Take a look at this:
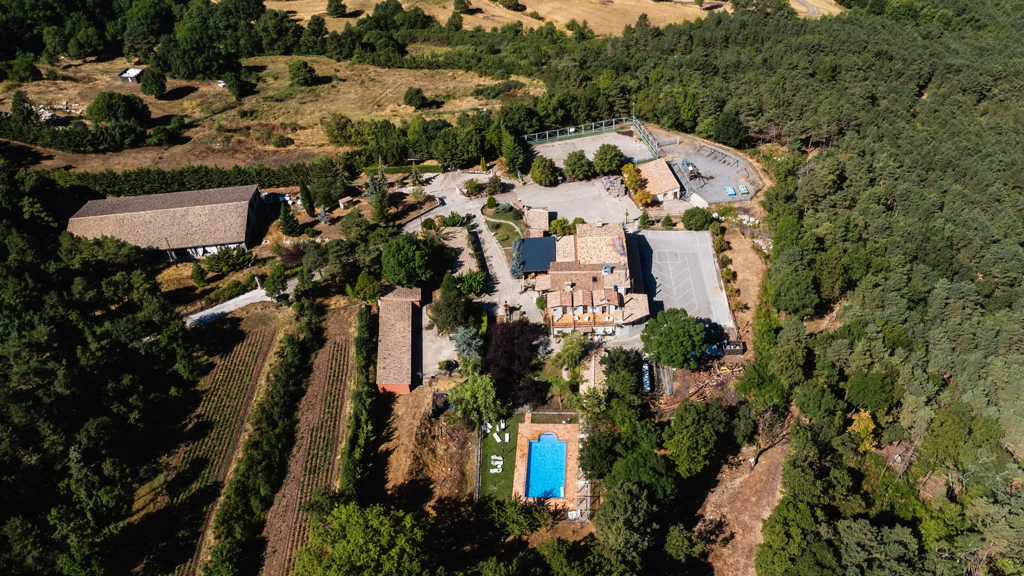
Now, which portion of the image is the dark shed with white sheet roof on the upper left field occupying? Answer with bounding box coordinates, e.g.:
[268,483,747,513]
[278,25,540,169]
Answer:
[113,67,144,84]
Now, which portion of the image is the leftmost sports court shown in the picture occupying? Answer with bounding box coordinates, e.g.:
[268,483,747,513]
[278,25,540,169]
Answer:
[526,125,656,186]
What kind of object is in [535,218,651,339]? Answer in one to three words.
house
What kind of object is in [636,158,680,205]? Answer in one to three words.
building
